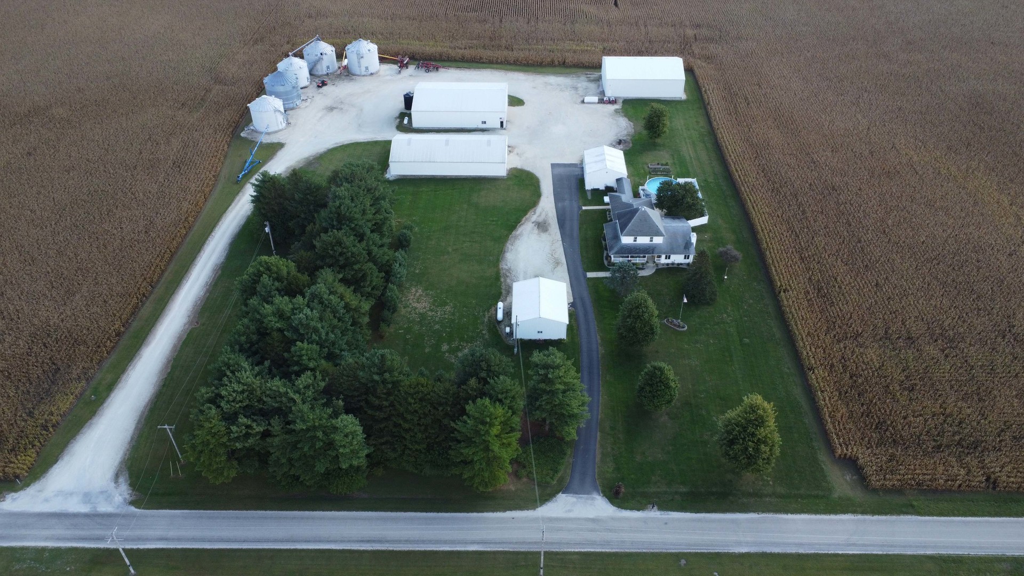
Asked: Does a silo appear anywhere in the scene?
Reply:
Yes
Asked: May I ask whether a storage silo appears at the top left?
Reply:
Yes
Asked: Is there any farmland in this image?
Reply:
Yes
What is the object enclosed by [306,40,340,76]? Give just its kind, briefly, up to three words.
silo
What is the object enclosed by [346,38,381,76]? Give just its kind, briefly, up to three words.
silo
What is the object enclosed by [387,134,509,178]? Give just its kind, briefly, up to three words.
shed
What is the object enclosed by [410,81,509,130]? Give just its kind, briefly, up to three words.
shed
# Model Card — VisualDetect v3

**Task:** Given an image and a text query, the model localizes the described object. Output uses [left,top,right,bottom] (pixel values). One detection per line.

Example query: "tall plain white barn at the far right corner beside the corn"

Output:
[601,56,687,100]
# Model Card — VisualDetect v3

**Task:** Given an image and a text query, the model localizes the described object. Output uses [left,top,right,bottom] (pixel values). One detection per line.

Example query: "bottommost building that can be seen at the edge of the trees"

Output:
[510,275,569,342]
